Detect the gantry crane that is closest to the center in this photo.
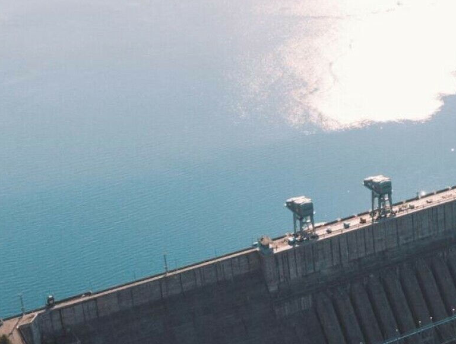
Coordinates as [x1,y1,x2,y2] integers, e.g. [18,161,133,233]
[280,199,316,244]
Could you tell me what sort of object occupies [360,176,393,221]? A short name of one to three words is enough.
container crane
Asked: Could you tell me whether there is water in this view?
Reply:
Yes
